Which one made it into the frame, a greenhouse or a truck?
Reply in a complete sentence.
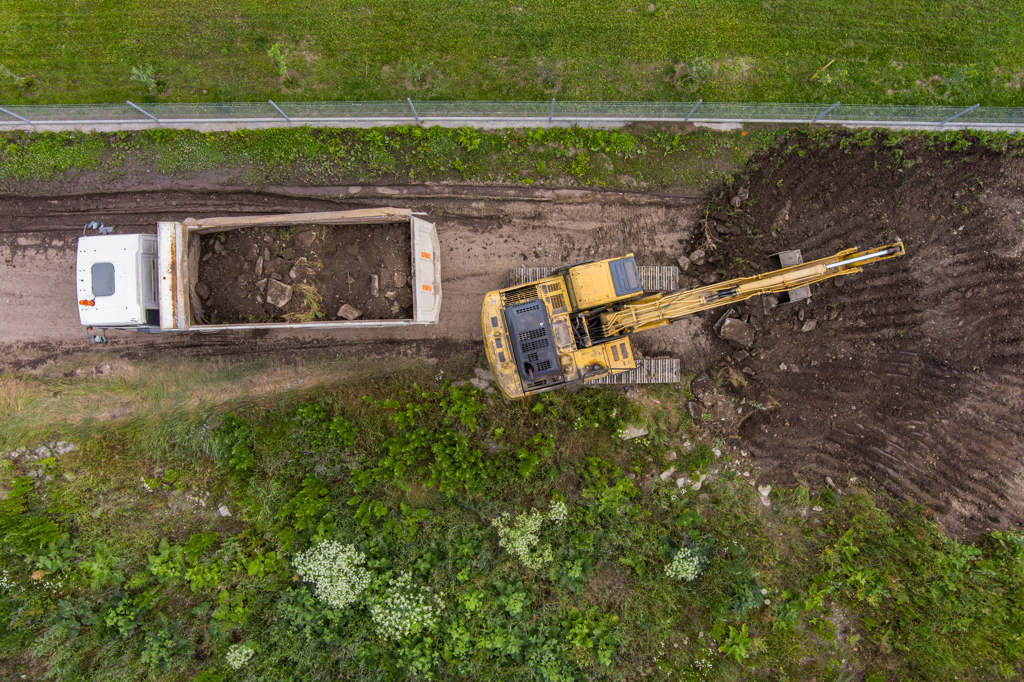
Looking from above, you can make out a truck.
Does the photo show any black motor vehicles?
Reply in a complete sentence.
No, the picture doesn't show any black motor vehicle.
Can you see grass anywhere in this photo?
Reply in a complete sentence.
Yes, grass shows up in the scene.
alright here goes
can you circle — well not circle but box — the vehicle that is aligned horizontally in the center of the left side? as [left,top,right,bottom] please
[78,207,443,343]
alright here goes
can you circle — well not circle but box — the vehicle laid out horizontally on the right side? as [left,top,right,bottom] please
[481,242,904,400]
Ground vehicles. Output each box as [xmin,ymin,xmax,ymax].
[481,242,904,400]
[78,207,443,343]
